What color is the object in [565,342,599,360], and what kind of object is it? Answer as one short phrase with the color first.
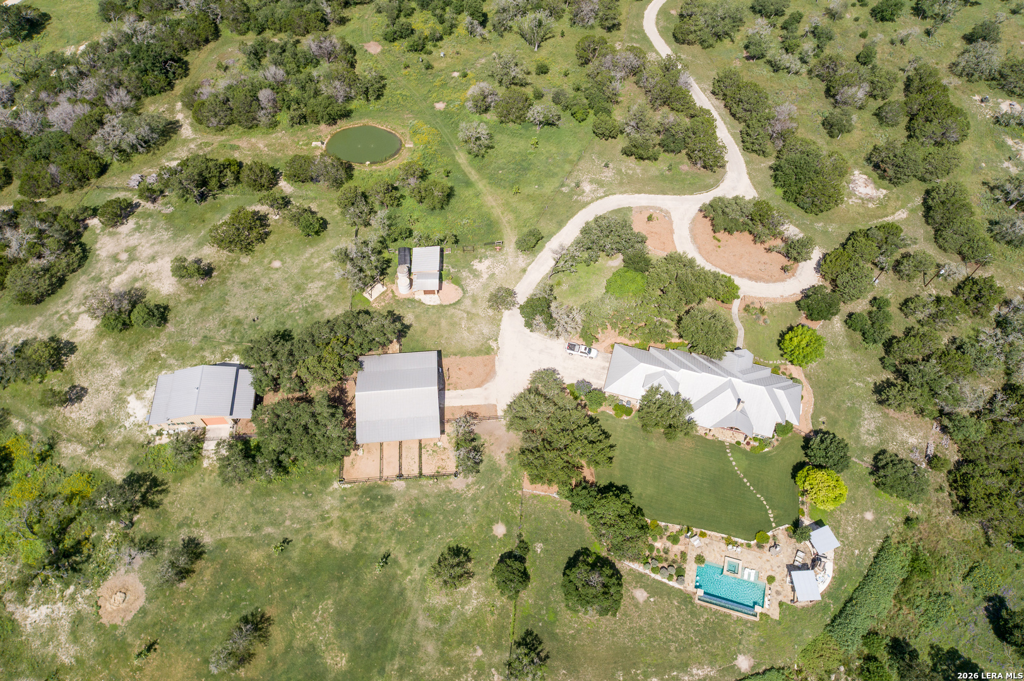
white vehicle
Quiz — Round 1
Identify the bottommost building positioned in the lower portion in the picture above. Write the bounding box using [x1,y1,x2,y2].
[789,570,821,603]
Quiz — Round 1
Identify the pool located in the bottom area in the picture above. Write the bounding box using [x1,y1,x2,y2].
[693,557,767,621]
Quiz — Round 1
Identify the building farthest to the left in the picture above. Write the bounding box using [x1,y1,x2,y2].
[147,364,262,428]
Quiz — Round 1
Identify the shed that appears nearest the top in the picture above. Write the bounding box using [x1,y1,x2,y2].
[411,245,440,300]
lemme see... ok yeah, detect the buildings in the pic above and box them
[411,245,440,300]
[807,525,840,556]
[789,570,821,603]
[147,364,262,428]
[604,343,802,446]
[357,351,442,448]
